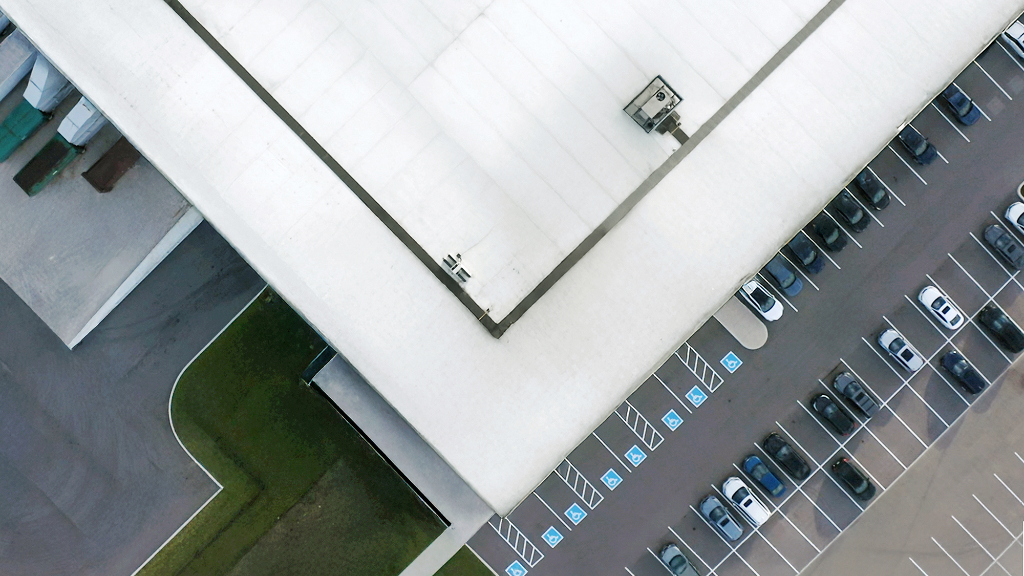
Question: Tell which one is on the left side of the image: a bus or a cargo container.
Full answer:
You can see a cargo container on the left side of the image.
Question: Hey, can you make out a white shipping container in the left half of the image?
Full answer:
No, I see no white shipping container in the left half of the image.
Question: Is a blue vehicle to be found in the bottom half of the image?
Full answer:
Yes, I can see a blue vehicle in the bottom half of the image.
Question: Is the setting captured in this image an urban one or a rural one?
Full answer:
It looks urban.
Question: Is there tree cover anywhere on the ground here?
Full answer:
No, no tree cover is visible.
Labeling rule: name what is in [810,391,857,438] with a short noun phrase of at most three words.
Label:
car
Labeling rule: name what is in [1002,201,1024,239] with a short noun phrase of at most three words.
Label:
car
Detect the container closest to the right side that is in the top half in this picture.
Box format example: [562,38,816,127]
[80,132,144,196]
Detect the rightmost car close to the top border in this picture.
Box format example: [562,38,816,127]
[1001,21,1024,61]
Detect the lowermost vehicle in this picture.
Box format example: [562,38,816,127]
[658,540,706,576]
